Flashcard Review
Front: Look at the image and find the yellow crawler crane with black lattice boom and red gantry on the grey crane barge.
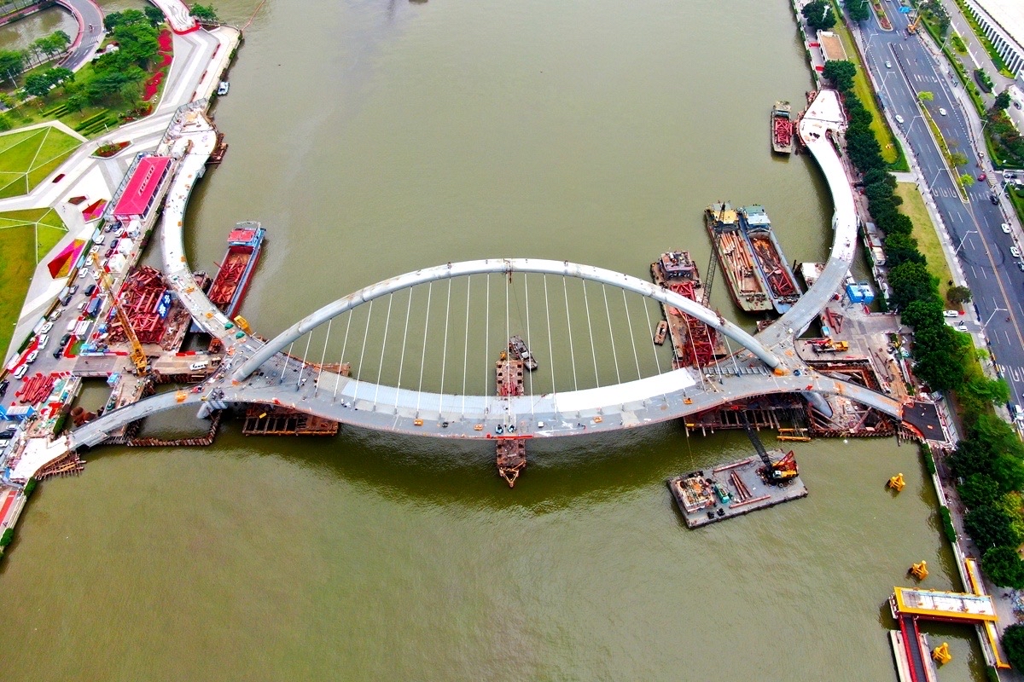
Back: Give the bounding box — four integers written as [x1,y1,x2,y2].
[722,409,797,491]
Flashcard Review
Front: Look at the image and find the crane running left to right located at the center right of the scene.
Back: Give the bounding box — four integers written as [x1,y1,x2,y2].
[804,336,850,355]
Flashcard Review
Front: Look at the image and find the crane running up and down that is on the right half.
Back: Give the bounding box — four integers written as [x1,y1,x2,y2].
[694,202,727,321]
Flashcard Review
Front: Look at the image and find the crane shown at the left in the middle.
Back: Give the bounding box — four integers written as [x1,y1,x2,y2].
[92,250,151,375]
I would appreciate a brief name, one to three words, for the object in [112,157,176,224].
building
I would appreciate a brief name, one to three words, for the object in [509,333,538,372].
boat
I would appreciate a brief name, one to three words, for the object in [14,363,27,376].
vehicle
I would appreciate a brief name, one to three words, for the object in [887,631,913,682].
pier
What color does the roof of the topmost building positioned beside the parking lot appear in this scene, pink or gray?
pink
